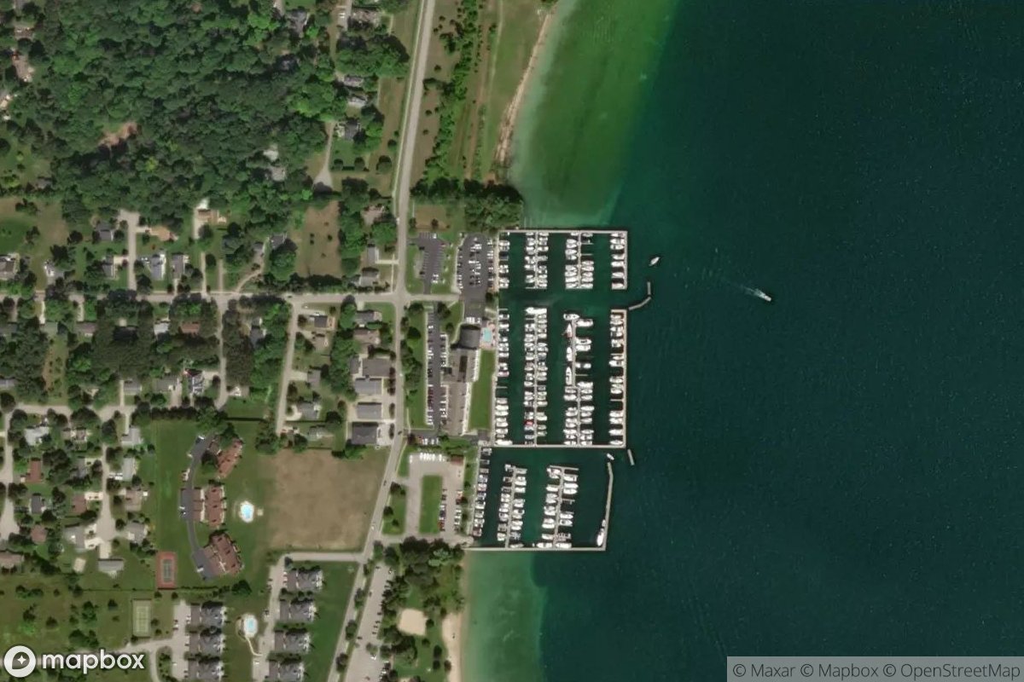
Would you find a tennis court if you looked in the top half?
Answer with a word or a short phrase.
No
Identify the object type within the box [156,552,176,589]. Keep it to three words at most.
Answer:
tennis court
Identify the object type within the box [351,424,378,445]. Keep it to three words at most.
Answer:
building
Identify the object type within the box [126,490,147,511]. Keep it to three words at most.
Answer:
house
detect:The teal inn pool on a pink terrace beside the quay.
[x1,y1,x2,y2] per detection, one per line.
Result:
[479,321,496,350]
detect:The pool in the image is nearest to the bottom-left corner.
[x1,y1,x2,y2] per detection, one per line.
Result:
[243,614,257,636]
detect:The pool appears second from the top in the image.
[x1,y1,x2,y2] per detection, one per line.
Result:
[239,501,254,522]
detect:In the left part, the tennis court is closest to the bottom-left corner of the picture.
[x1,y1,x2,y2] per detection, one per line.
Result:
[133,600,150,636]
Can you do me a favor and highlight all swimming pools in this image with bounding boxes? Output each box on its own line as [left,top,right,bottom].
[243,614,257,636]
[239,501,254,522]
[479,321,496,350]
